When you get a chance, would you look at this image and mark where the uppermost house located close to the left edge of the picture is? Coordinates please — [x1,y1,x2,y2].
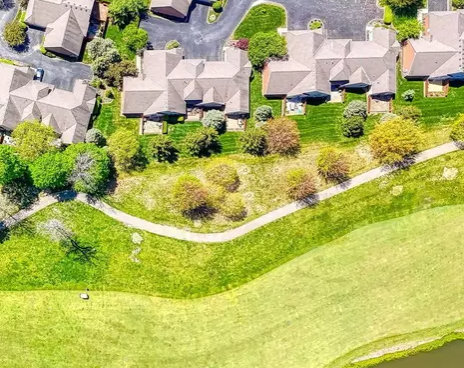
[16,0,110,58]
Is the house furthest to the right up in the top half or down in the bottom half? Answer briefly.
top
